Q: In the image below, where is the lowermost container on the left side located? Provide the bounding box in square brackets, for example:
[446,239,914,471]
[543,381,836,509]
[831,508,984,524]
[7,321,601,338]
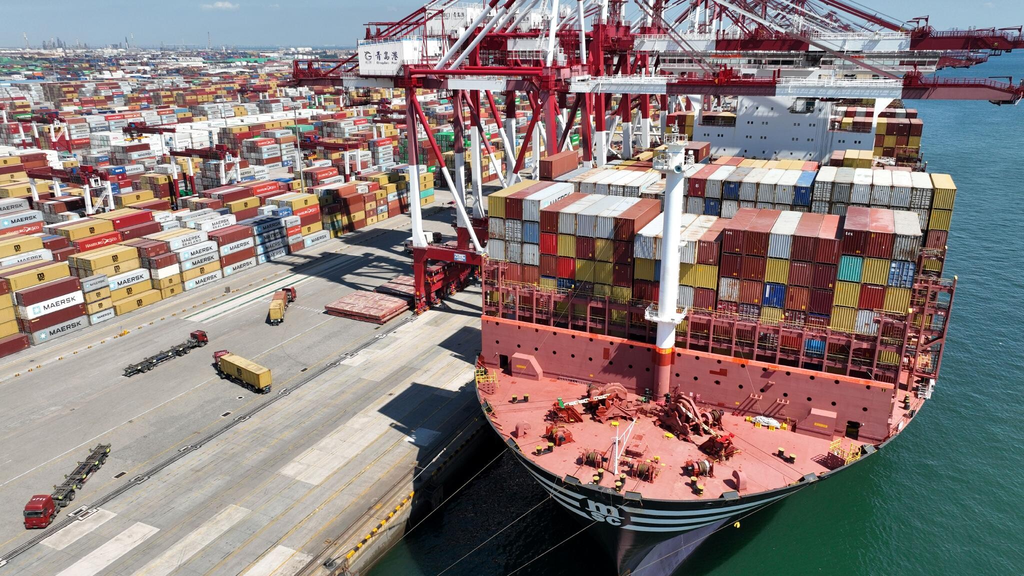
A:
[222,353,281,383]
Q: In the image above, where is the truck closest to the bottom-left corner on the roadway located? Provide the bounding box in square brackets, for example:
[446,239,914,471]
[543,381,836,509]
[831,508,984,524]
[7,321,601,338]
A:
[22,445,109,524]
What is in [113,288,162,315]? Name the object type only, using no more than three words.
shipping container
